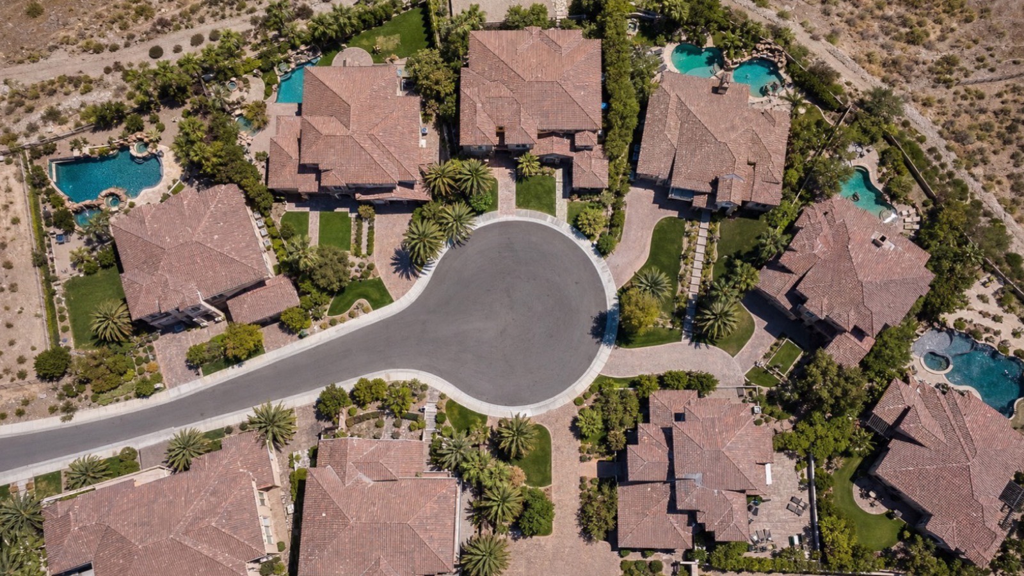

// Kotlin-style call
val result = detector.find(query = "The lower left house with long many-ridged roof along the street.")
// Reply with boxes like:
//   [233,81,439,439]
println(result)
[40,429,283,576]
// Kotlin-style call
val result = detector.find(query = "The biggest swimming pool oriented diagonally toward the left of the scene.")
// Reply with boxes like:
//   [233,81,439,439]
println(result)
[271,55,323,107]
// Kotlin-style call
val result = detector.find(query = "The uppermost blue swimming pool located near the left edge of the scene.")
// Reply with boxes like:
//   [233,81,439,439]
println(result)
[46,144,165,205]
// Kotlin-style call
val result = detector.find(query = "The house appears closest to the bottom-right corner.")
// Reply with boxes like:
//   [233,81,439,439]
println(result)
[864,374,1024,569]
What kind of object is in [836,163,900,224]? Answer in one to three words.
swimming pool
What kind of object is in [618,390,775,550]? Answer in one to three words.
house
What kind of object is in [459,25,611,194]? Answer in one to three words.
house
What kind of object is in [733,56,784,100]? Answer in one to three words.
swimming pool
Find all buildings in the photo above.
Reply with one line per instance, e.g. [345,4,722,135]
[267,65,434,206]
[754,196,935,367]
[618,390,775,550]
[459,25,611,194]
[109,183,301,327]
[864,374,1024,569]
[636,66,791,216]
[296,438,457,576]
[40,429,283,576]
